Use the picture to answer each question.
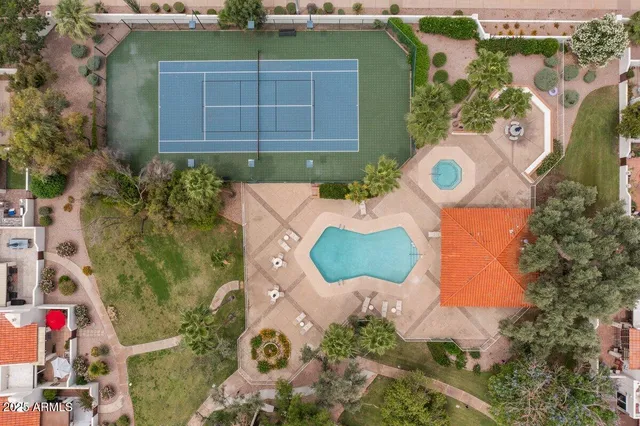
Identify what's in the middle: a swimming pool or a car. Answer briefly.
swimming pool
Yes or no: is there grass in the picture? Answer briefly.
Yes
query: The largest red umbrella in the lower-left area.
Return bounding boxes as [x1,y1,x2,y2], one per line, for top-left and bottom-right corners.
[45,309,68,330]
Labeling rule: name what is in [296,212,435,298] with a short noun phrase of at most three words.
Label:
swimming pool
